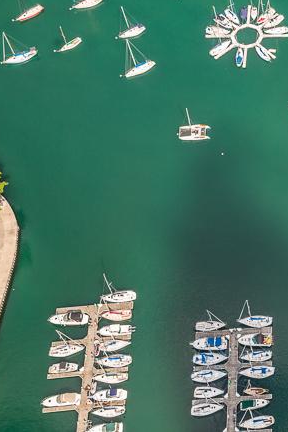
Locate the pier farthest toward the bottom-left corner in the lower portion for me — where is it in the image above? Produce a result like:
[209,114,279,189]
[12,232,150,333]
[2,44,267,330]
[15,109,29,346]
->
[43,301,134,432]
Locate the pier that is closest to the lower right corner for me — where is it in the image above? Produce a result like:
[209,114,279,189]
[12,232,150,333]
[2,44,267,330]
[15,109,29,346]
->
[193,326,273,432]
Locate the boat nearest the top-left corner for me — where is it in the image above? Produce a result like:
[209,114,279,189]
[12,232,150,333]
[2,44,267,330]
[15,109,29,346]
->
[15,0,45,22]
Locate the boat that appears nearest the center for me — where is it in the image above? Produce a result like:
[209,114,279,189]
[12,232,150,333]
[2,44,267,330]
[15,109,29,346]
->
[99,273,138,302]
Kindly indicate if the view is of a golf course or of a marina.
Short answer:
marina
